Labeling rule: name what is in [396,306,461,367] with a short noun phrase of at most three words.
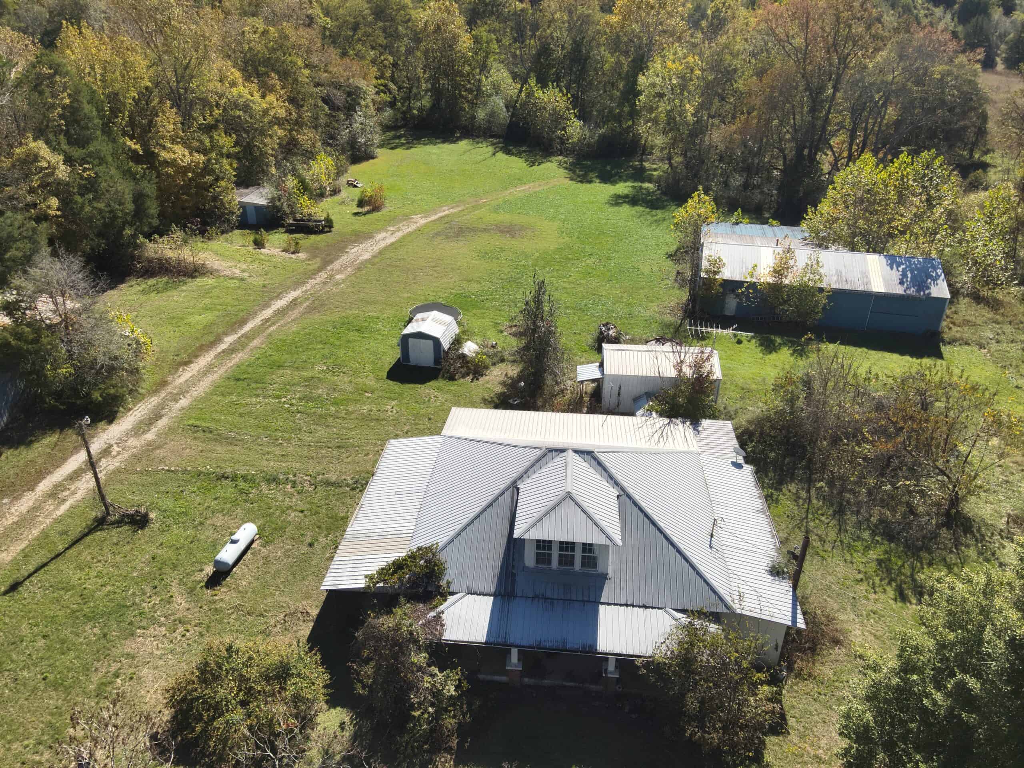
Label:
shed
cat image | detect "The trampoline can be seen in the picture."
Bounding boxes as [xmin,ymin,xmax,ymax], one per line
[408,301,464,325]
